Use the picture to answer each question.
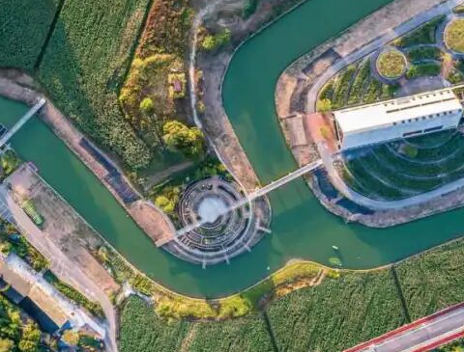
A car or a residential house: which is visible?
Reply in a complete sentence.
The image shows a residential house.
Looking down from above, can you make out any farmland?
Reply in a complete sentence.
Yes, farmland shows up in the scene.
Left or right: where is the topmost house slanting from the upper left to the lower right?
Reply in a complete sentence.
The topmost house slanting from the upper left to the lower right sits on the left side.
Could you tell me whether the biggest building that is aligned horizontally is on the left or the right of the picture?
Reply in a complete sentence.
The biggest building that is aligned horizontally is on the right side of the image.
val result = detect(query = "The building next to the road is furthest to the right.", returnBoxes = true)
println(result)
[329,88,463,150]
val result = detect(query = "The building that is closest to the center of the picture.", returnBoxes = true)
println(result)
[286,114,307,148]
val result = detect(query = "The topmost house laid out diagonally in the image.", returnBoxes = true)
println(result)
[0,260,32,297]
